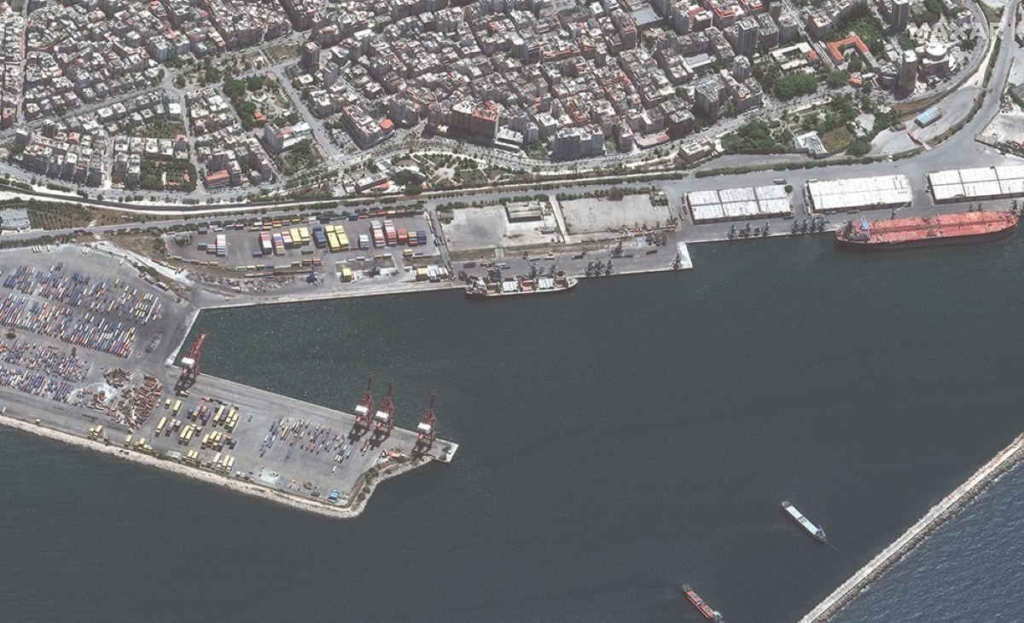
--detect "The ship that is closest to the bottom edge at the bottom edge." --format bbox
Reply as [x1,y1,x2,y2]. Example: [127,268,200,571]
[682,586,726,623]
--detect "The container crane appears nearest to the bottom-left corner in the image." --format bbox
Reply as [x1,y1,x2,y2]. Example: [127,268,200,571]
[178,330,207,382]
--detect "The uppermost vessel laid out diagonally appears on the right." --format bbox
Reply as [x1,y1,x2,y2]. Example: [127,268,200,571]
[781,502,828,544]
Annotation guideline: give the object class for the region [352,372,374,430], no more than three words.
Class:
container crane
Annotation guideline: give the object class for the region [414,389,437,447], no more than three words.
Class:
container crane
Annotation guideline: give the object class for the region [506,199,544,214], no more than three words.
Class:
shed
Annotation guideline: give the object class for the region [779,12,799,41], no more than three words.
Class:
building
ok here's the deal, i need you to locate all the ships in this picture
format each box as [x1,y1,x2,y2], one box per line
[835,206,1018,249]
[682,586,726,623]
[781,502,828,544]
[465,254,578,296]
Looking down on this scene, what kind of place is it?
port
